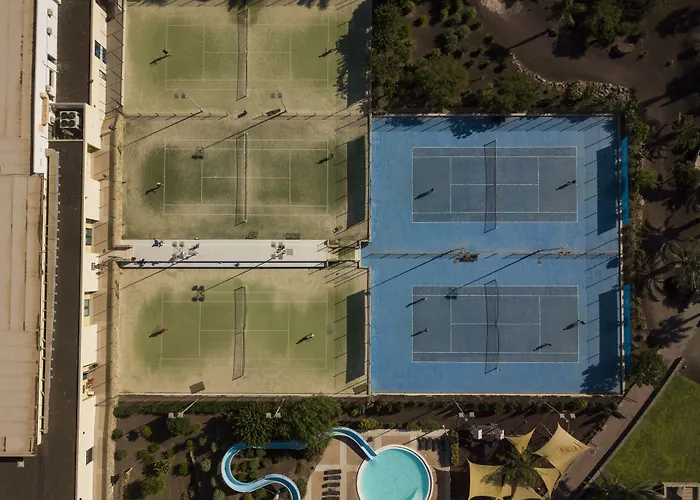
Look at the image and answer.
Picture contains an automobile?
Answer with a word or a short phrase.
No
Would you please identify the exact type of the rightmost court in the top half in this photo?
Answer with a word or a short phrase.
tennis court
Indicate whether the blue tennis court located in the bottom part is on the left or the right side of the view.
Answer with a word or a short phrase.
right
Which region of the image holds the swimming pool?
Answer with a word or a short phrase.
bottom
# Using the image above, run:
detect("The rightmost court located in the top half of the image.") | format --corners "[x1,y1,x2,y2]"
[362,116,620,252]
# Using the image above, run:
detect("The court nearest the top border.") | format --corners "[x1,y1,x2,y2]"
[124,0,367,114]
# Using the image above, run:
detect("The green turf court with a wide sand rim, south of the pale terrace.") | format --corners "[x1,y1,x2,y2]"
[113,263,368,395]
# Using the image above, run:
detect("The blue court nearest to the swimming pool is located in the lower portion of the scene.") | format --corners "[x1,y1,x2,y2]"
[362,253,621,393]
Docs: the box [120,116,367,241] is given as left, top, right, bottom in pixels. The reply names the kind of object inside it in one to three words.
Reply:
tennis court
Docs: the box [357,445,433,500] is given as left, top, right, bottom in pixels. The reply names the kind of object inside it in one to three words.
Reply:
swimming pool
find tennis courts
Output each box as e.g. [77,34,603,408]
[362,116,620,252]
[362,253,621,393]
[124,0,367,114]
[113,263,368,395]
[120,116,367,241]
